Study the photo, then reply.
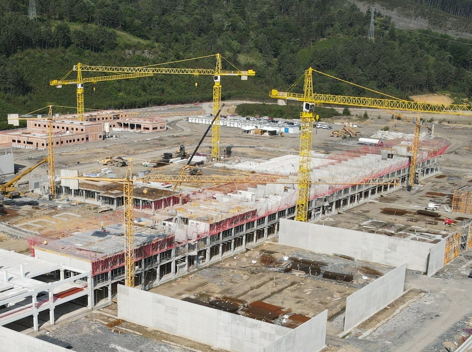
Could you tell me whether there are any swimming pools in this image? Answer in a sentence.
No, no swimming pool is visible in the view.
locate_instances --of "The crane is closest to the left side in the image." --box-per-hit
[5,150,64,197]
